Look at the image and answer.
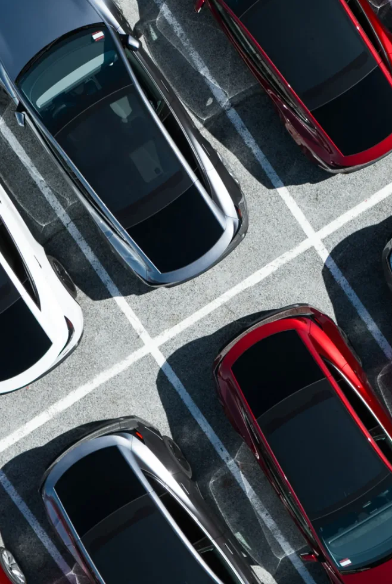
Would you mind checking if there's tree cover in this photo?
No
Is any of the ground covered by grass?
No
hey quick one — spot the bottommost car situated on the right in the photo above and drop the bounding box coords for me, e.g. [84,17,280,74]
[209,303,392,584]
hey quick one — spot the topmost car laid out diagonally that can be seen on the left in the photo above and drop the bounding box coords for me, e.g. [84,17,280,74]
[0,0,252,290]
